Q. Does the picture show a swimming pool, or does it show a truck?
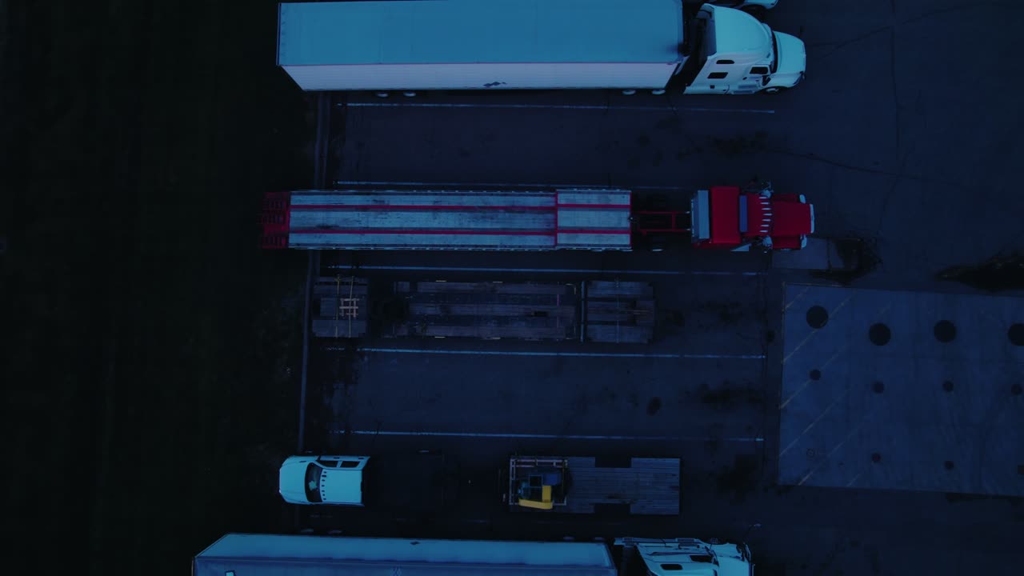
truck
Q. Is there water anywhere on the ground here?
No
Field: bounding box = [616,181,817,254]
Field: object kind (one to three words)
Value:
truck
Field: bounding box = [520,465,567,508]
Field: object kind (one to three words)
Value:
work vehicle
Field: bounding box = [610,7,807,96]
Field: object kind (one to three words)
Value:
truck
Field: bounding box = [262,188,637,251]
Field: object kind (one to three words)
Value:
trailer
